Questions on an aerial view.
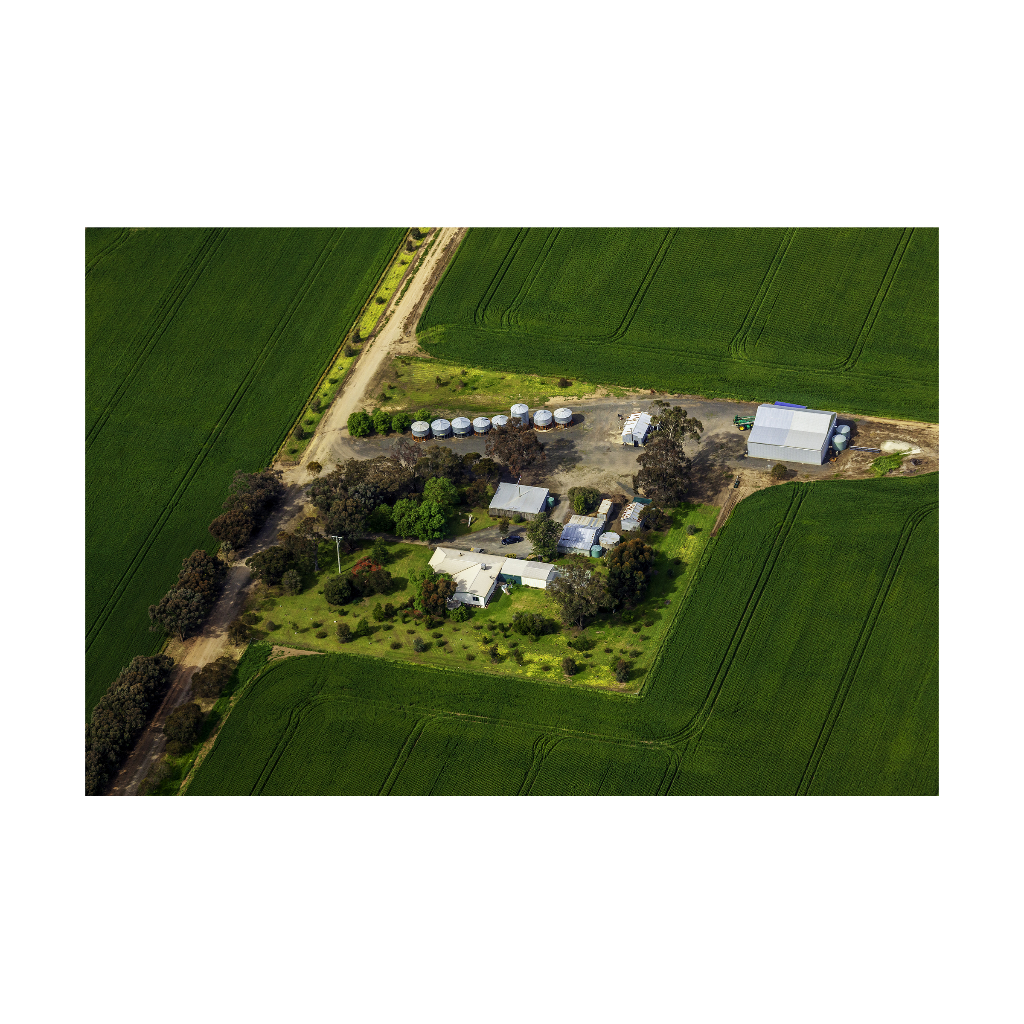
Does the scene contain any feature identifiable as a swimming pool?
No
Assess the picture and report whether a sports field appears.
No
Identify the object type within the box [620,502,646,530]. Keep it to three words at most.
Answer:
shed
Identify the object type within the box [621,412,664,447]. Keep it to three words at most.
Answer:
building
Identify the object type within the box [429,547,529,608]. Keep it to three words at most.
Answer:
house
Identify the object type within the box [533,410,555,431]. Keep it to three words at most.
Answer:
silo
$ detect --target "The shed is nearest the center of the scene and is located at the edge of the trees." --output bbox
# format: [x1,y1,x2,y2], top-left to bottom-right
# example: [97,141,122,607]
[488,482,550,522]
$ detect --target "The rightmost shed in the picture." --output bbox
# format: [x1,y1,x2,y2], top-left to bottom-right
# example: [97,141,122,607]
[747,404,838,465]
